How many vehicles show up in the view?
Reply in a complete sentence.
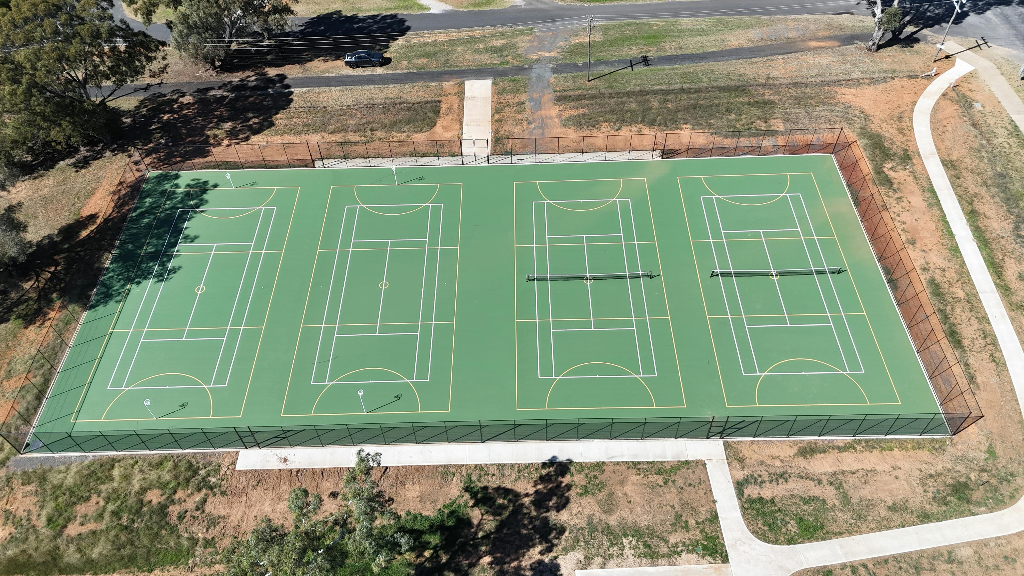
The count comes to 1 vehicle.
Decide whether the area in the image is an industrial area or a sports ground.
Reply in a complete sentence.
This image shows a sports ground.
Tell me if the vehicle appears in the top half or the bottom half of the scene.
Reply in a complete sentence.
It is in the top half that the vehicle appears.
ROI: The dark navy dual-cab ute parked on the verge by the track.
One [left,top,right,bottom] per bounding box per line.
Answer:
[344,49,385,69]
